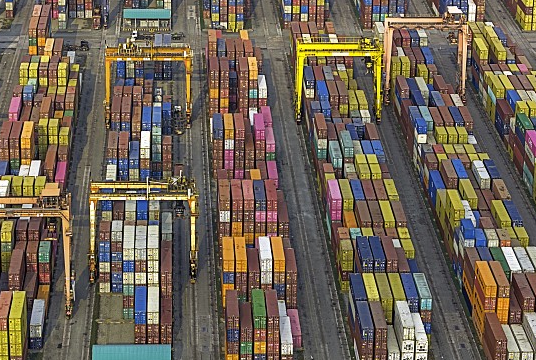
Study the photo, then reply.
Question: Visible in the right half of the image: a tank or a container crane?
container crane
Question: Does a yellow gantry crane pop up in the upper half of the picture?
Yes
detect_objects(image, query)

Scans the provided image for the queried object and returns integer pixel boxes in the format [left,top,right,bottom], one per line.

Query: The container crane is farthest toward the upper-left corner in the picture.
[103,36,194,130]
